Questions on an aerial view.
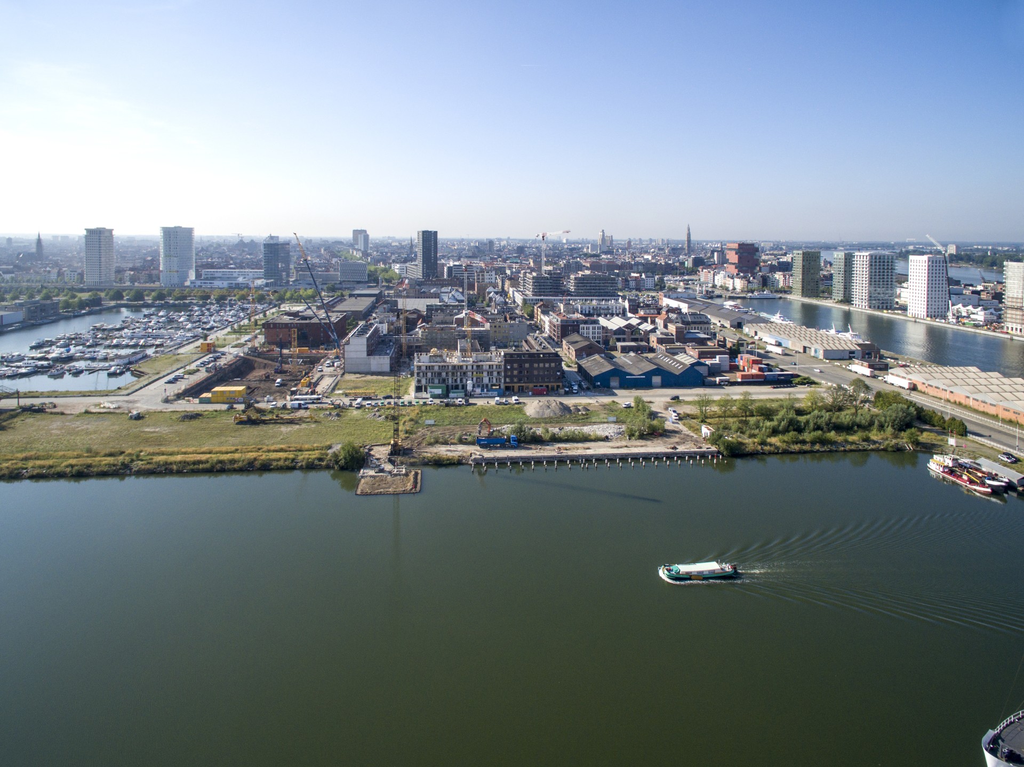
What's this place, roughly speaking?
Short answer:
port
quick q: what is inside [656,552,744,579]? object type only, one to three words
vessel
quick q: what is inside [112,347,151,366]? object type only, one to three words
boat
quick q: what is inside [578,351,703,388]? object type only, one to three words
building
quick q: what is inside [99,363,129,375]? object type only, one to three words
boat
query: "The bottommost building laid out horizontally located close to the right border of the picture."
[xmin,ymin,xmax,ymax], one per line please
[879,368,1024,428]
